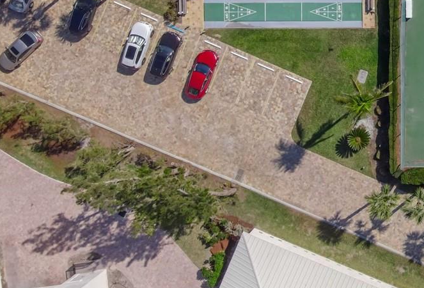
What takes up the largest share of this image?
paved ground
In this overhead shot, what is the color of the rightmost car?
red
